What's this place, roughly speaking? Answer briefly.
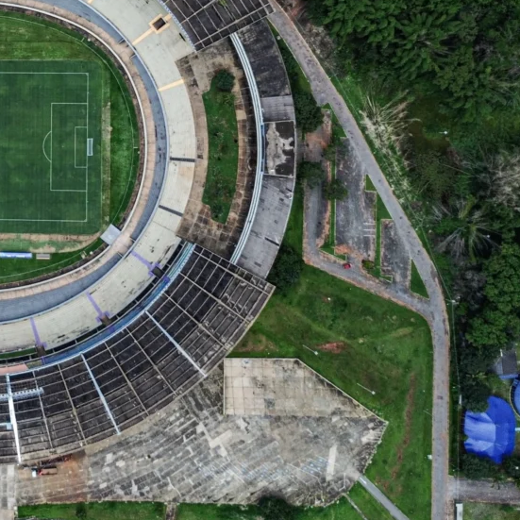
sports ground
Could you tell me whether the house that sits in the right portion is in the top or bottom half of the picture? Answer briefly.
bottom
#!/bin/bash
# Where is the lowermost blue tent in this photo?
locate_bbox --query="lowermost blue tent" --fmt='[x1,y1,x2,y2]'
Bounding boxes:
[461,396,516,462]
